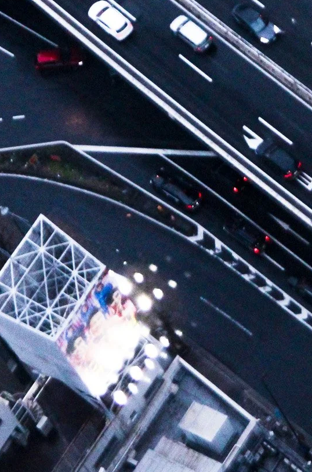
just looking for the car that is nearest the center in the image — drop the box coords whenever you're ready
[153,169,203,213]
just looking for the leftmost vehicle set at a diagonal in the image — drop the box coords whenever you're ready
[89,1,137,44]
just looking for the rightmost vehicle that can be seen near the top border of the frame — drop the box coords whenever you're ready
[231,2,282,48]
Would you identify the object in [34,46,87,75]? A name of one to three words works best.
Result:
car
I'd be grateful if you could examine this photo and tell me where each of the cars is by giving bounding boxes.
[34,46,87,75]
[222,215,273,260]
[167,14,217,57]
[89,1,137,44]
[255,140,303,182]
[153,169,203,213]
[206,158,255,201]
[231,2,282,48]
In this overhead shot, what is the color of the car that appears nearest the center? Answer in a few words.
black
